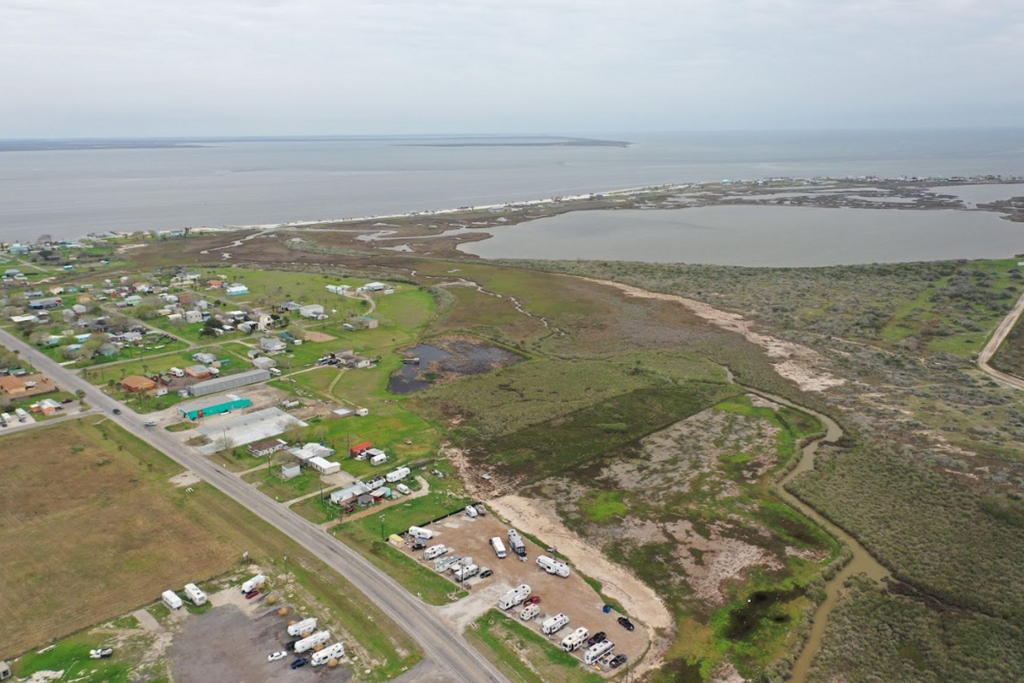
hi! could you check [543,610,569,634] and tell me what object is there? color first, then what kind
white vehicle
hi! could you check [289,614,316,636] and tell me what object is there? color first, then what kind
white vehicle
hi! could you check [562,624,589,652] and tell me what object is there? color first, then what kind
white camper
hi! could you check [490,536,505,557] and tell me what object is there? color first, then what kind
white camper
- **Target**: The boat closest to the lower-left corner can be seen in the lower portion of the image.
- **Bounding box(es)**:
[31,642,59,655]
